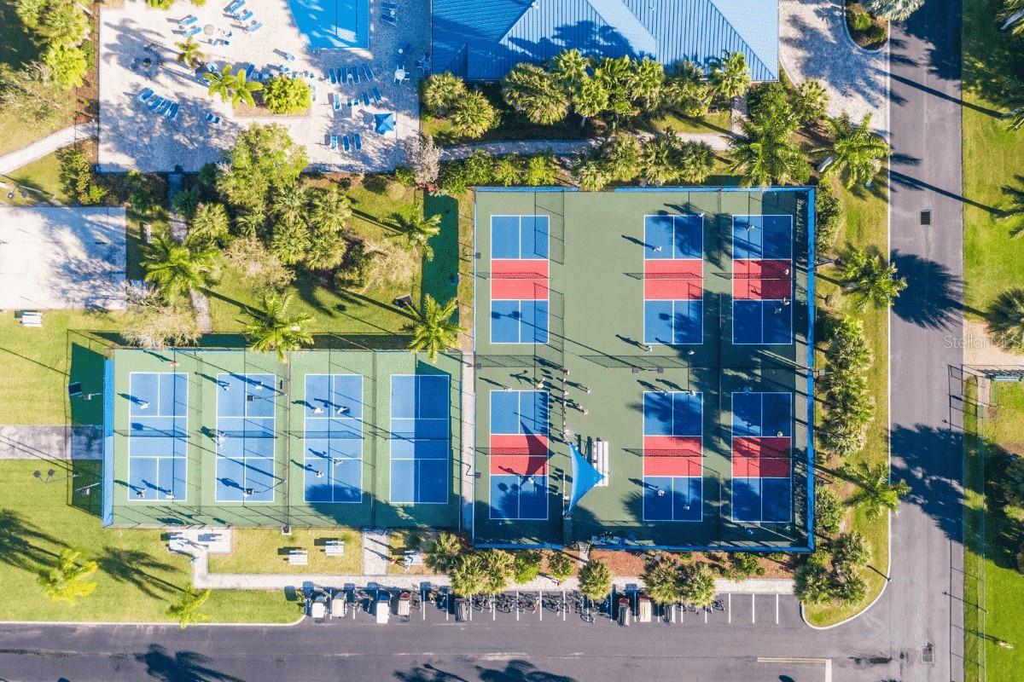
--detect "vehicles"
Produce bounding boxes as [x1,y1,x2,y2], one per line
[455,594,469,621]
[377,594,391,621]
[332,587,349,615]
[637,595,651,621]
[616,599,630,626]
[398,589,412,616]
[313,594,329,621]
[660,596,675,623]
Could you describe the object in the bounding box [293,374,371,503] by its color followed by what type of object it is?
blue sports court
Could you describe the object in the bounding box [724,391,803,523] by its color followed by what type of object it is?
blue sports court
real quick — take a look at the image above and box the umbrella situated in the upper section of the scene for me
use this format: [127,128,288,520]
[374,113,396,135]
